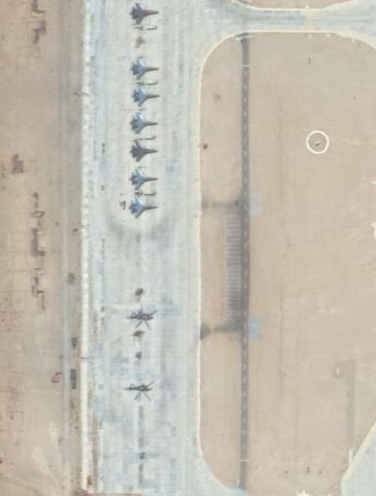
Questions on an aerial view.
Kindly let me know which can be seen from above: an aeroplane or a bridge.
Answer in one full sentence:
There is an aeroplane in the scene.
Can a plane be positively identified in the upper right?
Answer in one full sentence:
No, no plane appears in the upper right.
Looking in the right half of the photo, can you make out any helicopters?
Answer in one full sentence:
No, the scene shows no helicopter in the right half of the photo.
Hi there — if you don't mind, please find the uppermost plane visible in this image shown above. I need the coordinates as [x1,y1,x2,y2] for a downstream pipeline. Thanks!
[131,4,159,22]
